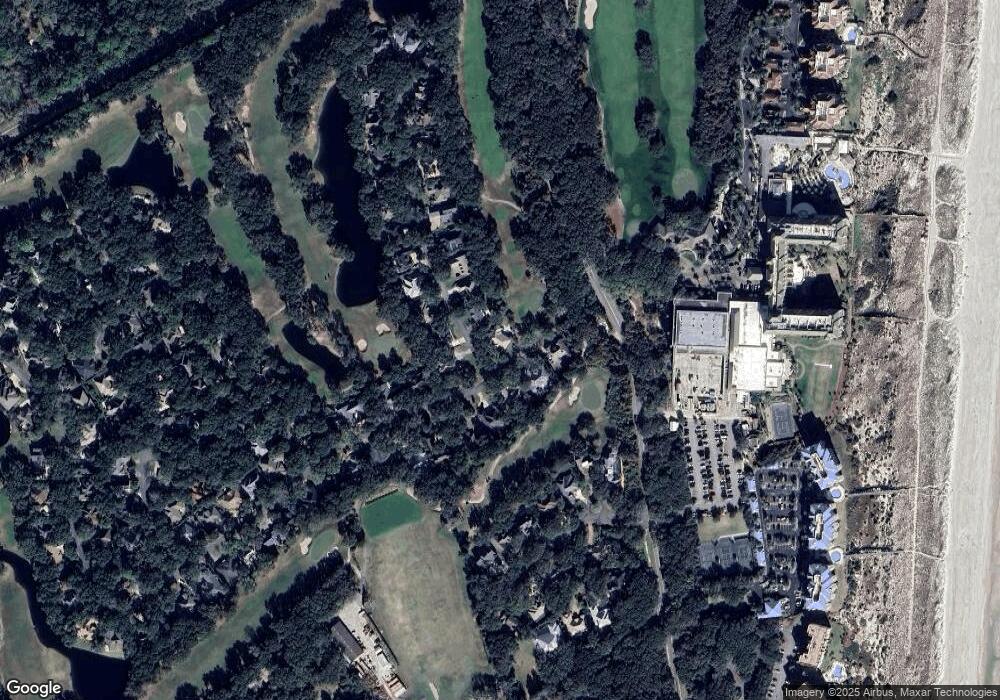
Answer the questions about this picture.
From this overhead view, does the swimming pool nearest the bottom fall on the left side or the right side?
right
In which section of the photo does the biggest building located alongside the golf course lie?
right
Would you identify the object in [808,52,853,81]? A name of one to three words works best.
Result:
building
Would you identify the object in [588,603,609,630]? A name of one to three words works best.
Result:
house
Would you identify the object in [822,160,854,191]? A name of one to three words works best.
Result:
swimming pool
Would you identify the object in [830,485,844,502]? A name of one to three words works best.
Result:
swimming pool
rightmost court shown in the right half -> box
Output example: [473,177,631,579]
[772,402,795,437]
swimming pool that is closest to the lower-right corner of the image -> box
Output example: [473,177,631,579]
[826,661,847,683]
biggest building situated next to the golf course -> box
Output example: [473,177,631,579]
[672,293,783,410]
